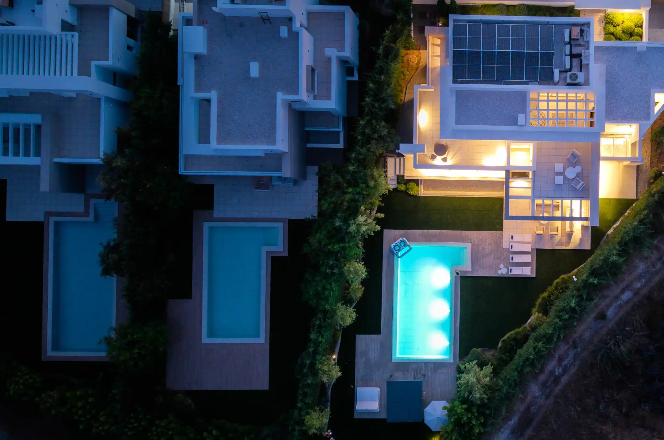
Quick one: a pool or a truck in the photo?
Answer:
pool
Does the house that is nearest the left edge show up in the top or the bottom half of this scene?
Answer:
top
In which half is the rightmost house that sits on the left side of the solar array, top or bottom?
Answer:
top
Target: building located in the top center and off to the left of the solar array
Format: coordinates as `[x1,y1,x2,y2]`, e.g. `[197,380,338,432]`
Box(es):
[179,0,359,180]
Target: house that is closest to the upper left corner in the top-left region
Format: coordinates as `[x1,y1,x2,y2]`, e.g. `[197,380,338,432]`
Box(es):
[0,0,144,193]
